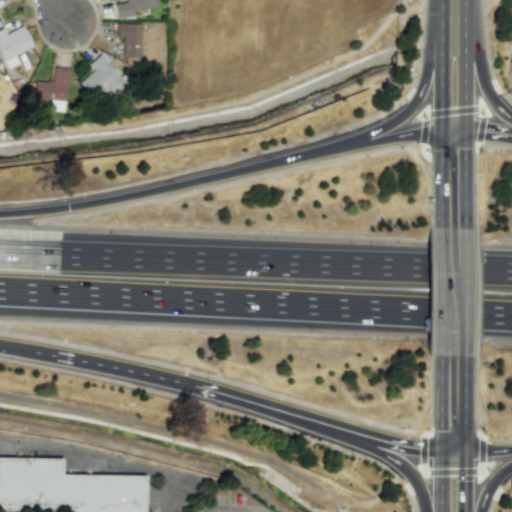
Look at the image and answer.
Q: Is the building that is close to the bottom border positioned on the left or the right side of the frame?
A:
left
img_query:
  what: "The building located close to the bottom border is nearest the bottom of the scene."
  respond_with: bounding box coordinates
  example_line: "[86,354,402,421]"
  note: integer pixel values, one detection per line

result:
[0,458,148,512]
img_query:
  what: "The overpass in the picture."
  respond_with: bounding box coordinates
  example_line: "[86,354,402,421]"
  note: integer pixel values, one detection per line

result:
[430,226,482,358]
